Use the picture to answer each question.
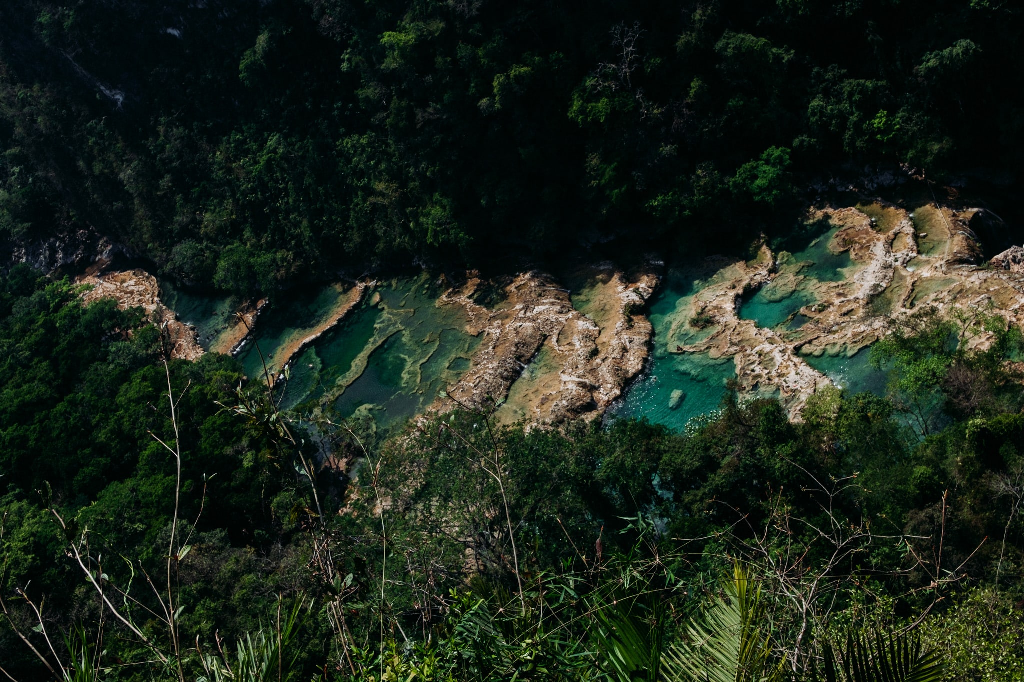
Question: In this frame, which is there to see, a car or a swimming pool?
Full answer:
Visible in the photo is a swimming pool.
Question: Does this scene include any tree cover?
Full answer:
Yes, the picture does contain tree cover.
